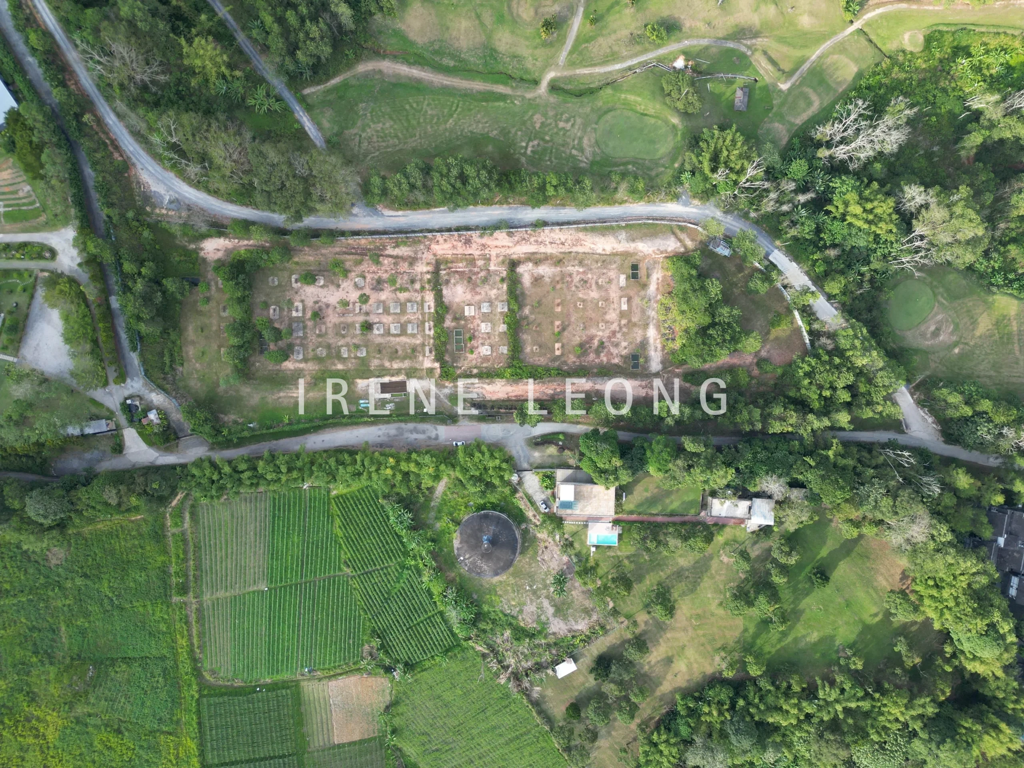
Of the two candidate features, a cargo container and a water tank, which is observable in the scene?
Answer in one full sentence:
Of the two, only a water tank appears.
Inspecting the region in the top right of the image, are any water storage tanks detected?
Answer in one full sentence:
No, no water storage tank appears in the top right of the image.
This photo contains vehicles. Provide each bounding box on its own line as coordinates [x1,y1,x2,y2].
[453,441,465,446]
[540,501,550,513]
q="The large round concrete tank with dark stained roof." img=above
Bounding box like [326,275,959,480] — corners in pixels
[454,508,521,578]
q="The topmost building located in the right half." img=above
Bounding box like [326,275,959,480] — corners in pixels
[732,82,749,113]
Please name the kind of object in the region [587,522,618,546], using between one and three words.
swimming pool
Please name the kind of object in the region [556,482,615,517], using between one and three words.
house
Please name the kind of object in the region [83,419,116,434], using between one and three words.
shed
